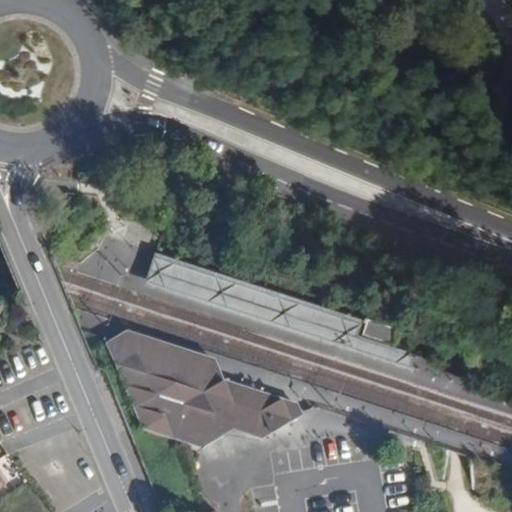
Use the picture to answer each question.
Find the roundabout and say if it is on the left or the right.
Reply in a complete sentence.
The roundabout sits on the left side.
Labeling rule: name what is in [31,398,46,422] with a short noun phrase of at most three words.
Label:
car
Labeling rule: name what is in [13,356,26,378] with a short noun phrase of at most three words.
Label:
vehicle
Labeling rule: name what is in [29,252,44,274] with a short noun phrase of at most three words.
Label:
car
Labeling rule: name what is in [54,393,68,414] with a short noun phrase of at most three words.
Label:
vehicle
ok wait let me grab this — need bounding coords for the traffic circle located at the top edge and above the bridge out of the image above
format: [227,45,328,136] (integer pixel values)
[0,0,114,166]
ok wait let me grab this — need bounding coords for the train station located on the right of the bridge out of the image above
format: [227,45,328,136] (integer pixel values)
[66,226,512,468]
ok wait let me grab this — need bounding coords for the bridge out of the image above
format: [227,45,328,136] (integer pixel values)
[0,230,79,323]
